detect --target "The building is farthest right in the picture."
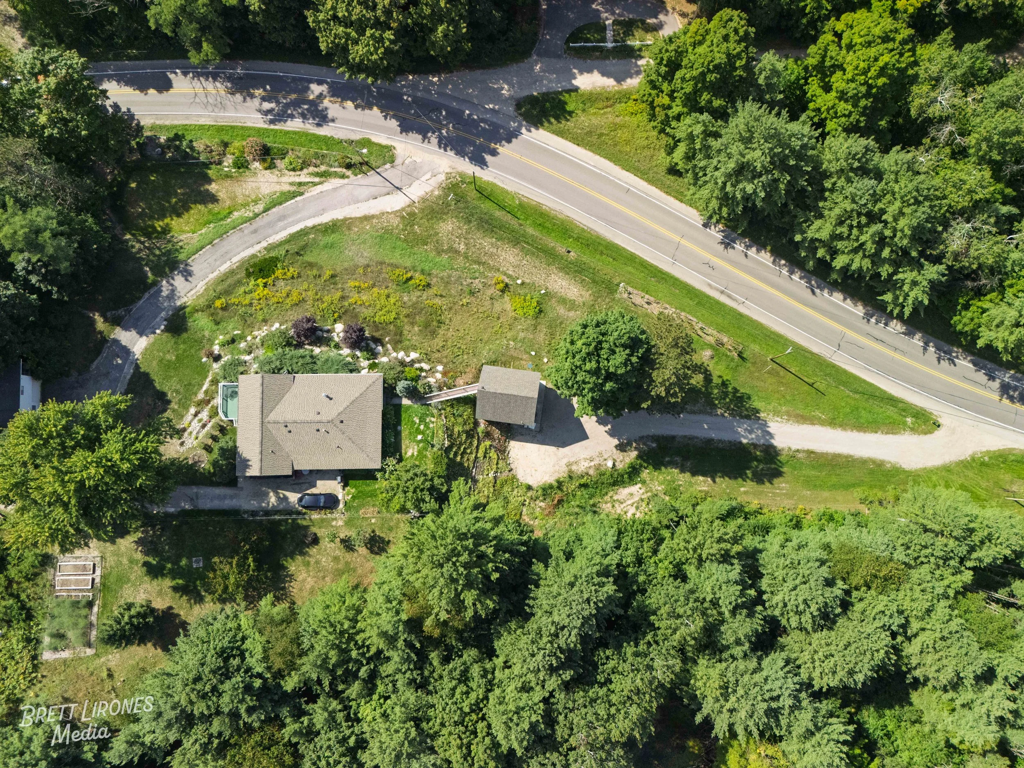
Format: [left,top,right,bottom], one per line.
[476,365,541,425]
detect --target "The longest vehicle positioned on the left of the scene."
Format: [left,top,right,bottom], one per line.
[298,492,339,511]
